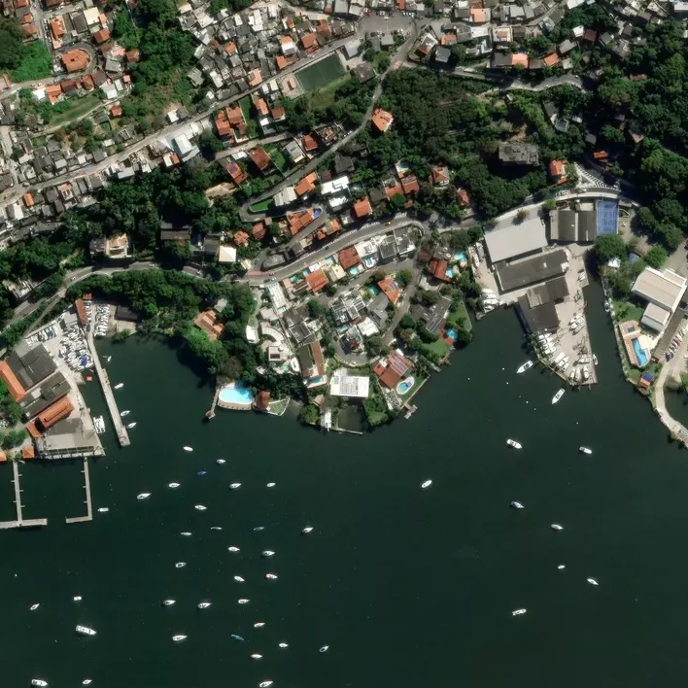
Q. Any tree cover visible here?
Yes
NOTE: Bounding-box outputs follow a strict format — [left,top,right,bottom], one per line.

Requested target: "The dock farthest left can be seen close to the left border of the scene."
[0,460,47,529]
